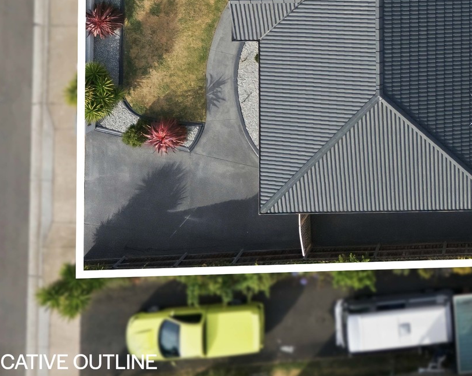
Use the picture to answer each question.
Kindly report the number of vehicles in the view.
2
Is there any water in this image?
No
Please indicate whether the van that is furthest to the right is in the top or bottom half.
bottom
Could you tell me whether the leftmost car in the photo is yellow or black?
yellow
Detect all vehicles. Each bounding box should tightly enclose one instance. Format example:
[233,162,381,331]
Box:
[335,277,454,353]
[128,296,265,366]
